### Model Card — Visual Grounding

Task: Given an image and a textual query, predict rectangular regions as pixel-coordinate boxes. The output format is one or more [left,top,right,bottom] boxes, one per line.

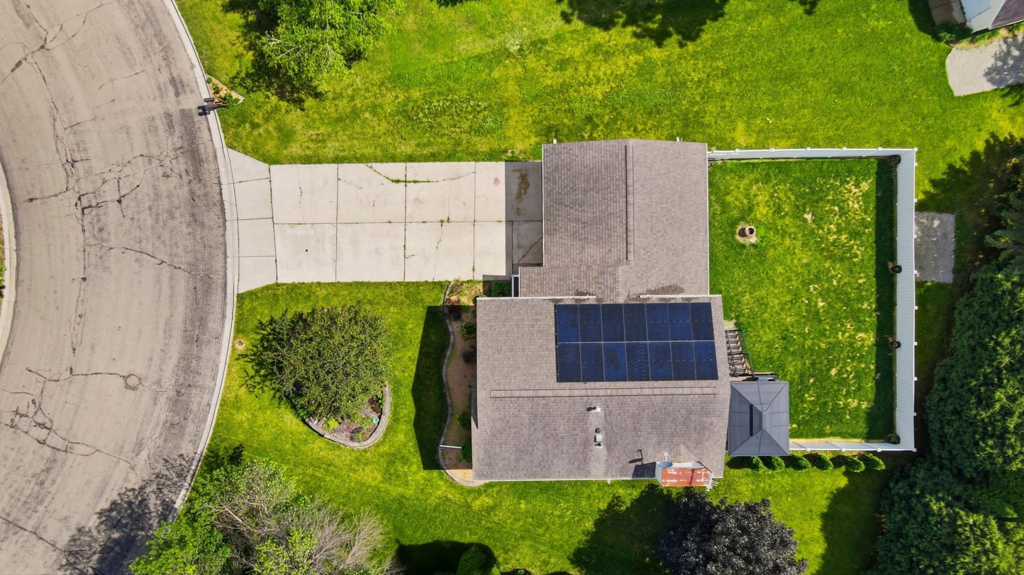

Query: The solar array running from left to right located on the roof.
[552,302,720,382]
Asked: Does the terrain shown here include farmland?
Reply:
No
